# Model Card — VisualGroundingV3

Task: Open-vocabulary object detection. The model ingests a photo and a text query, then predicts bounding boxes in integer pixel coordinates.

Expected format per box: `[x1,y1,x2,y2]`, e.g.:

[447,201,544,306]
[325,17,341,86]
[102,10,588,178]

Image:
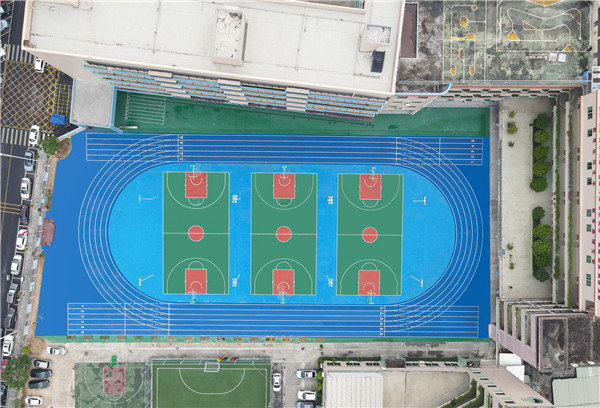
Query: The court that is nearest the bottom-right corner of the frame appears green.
[336,167,404,303]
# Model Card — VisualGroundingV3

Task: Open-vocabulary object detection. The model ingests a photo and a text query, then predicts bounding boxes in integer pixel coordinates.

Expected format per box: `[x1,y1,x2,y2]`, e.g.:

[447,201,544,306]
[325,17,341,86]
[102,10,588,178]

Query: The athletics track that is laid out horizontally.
[34,129,490,338]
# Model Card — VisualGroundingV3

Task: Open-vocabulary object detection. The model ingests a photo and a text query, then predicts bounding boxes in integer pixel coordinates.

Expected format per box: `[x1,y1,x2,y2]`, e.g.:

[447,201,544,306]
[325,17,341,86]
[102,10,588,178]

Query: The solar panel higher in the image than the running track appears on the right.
[370,50,385,73]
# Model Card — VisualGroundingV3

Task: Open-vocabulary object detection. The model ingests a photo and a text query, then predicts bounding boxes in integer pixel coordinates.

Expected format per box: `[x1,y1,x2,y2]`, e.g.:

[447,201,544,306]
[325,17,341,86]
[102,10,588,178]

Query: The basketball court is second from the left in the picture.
[162,164,230,301]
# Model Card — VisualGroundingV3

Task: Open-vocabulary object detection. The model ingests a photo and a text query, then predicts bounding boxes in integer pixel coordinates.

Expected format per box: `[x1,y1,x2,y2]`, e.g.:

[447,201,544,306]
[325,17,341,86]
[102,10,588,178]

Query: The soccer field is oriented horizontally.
[151,359,270,408]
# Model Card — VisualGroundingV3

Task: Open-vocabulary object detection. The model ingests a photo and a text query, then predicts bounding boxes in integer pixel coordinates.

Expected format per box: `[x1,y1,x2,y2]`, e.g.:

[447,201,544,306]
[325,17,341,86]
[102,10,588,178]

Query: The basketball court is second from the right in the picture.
[250,165,318,301]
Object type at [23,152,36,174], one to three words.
vehicle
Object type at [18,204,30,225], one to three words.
vehicle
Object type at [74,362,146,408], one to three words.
basketball court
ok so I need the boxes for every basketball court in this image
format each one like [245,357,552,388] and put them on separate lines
[162,164,230,301]
[74,362,146,408]
[336,167,404,303]
[250,165,318,301]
